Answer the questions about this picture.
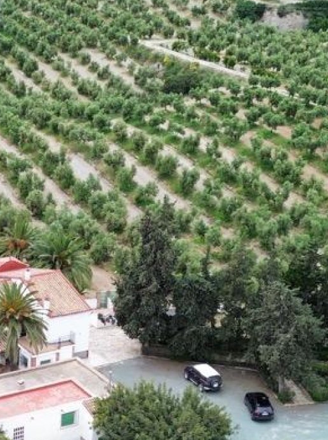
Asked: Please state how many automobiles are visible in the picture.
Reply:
2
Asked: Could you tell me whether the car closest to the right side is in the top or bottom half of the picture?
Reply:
bottom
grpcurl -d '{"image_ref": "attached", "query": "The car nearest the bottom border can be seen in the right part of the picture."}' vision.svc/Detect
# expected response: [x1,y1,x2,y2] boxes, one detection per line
[244,396,273,422]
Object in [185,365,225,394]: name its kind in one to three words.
car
